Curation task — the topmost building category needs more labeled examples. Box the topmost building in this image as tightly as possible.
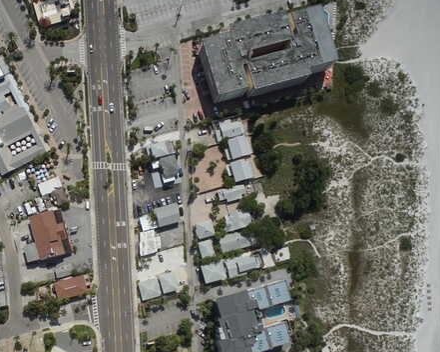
[35,0,70,27]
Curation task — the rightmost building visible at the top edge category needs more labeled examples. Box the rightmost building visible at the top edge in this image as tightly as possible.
[197,4,338,102]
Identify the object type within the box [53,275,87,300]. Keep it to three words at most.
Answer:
building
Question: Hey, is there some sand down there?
Yes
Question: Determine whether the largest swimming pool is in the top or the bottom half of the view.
bottom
